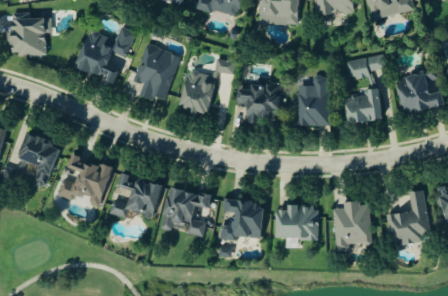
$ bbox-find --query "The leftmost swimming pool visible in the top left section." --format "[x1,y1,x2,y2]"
[56,14,74,33]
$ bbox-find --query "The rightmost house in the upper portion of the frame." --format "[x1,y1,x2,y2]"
[396,72,446,112]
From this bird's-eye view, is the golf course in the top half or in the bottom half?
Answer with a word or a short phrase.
bottom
